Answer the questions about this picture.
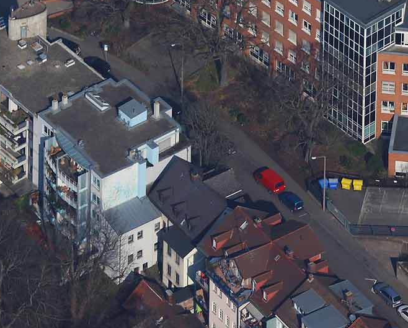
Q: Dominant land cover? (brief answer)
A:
buildings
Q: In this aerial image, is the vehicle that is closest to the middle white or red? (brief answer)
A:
red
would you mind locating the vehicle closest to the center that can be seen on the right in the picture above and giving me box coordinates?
[253,166,286,194]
